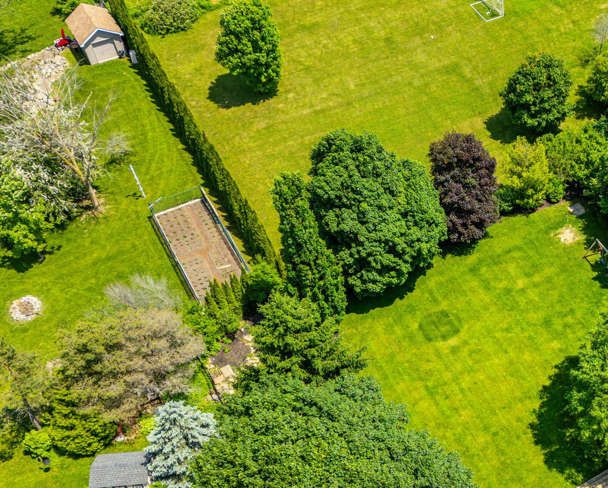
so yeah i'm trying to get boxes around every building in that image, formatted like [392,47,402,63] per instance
[60,1,128,66]
[86,449,164,488]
